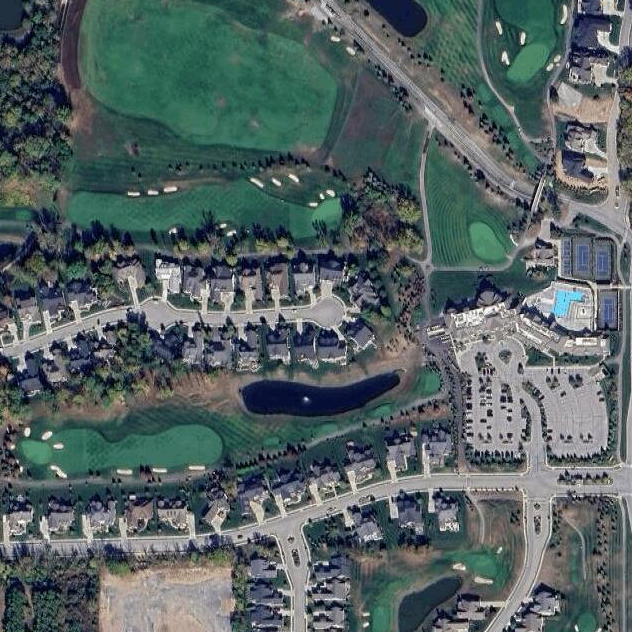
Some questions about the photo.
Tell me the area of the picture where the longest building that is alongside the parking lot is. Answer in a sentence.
The longest building that is alongside the parking lot is in the right part of the image.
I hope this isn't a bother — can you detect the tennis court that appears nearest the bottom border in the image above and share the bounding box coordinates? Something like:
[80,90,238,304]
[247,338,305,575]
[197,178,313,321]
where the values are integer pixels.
[599,293,617,328]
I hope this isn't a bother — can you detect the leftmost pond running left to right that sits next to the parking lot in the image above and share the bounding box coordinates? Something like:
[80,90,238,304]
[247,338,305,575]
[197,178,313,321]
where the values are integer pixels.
[238,371,400,416]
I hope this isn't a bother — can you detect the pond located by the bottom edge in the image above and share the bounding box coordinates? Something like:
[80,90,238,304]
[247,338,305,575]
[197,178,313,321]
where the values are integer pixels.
[397,575,462,632]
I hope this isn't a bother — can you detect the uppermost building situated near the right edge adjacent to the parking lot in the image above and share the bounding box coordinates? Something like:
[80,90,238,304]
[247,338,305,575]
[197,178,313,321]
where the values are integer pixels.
[441,286,612,357]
